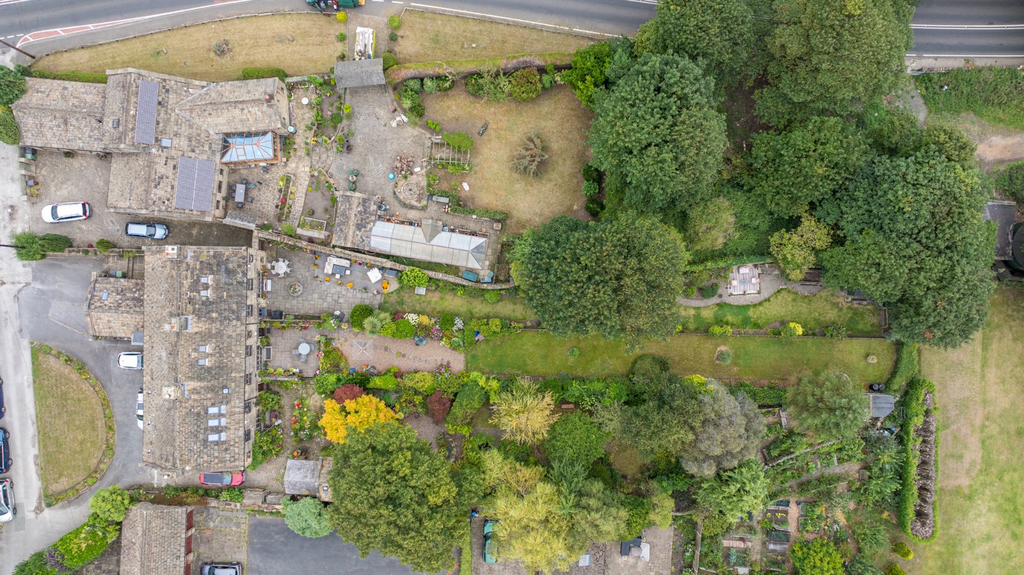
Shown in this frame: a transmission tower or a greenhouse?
greenhouse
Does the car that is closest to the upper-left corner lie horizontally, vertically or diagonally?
horizontally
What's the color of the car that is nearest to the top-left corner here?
white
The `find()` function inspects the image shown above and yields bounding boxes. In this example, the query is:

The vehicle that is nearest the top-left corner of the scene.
[43,200,92,222]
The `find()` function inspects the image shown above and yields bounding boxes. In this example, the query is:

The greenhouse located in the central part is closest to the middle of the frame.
[370,218,488,269]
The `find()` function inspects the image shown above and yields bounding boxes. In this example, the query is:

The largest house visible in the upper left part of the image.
[9,66,292,220]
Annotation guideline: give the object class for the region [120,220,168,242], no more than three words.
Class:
car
